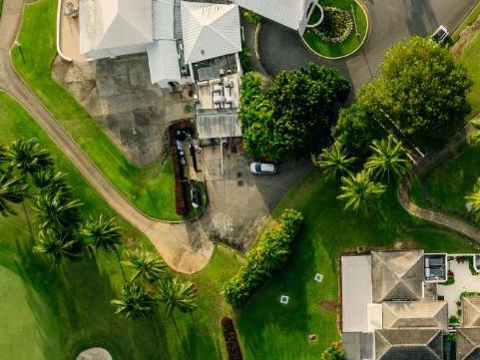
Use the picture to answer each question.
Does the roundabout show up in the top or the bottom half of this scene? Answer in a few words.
top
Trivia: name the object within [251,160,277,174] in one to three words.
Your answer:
vehicle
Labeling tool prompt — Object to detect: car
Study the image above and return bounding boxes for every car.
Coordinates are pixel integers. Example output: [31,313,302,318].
[251,160,277,174]
[438,24,452,38]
